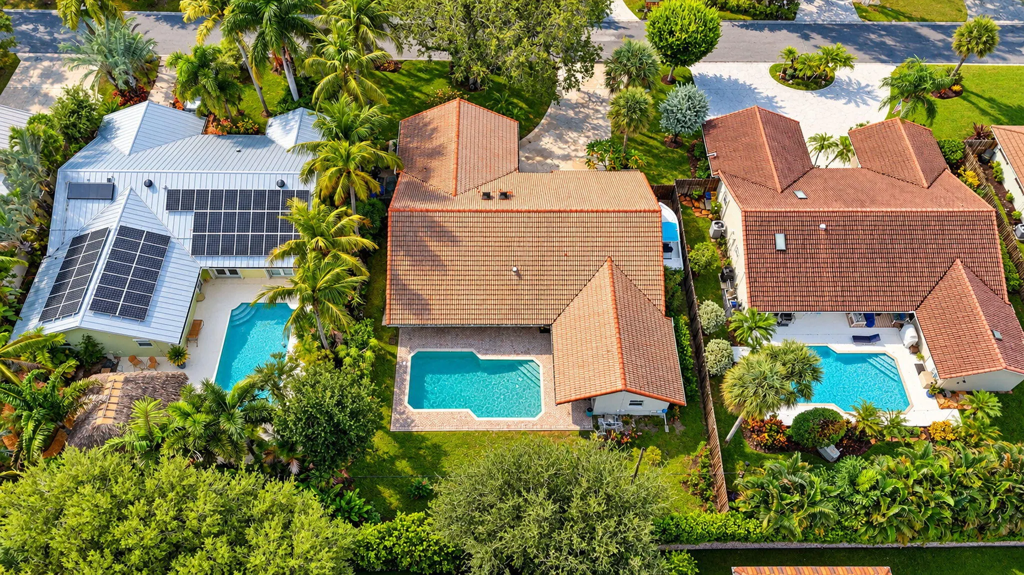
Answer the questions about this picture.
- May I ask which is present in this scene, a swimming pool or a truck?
swimming pool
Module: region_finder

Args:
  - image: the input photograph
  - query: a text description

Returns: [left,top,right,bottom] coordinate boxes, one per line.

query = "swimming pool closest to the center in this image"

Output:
[403,348,546,421]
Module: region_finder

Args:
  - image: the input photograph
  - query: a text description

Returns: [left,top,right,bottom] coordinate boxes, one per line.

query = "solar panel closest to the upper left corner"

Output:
[64,178,114,201]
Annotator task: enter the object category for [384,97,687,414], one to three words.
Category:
house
